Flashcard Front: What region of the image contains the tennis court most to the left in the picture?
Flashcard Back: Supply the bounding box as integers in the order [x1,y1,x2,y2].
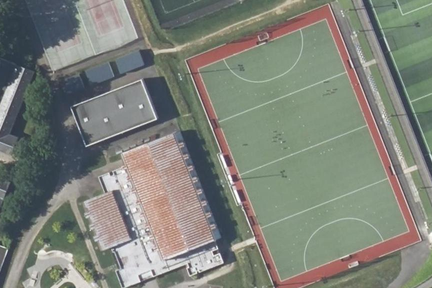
[26,0,94,71]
